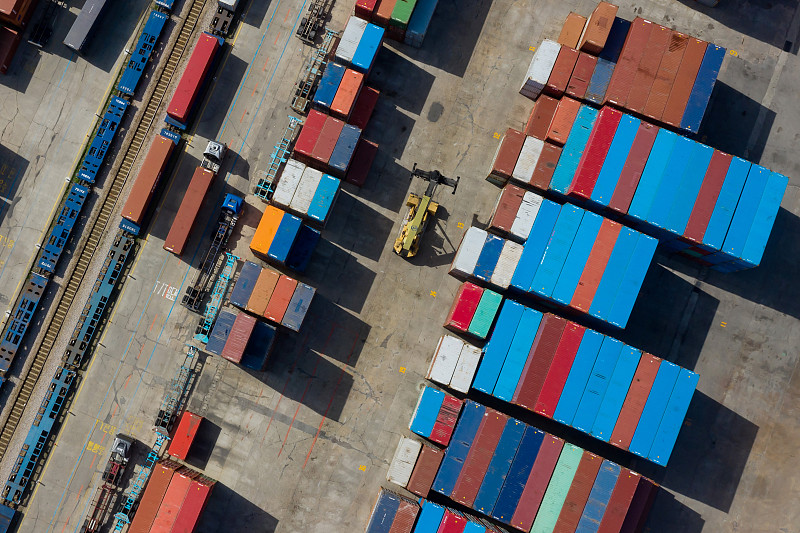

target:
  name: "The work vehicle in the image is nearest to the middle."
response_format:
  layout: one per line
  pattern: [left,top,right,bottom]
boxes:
[391,158,462,263]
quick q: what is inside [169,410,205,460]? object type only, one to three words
shipping container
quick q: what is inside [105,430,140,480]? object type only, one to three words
truck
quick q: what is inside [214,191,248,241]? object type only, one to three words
truck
